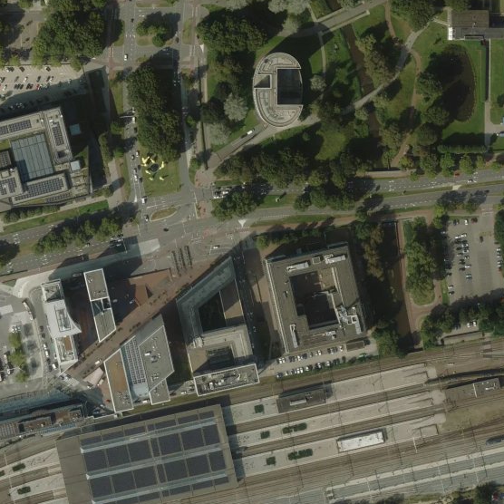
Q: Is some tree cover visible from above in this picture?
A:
Yes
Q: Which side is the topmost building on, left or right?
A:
right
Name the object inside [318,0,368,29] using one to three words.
bridge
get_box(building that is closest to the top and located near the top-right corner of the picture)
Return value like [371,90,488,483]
[447,11,504,41]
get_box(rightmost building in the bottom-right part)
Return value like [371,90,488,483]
[472,377,499,398]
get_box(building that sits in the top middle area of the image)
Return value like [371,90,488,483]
[253,53,302,128]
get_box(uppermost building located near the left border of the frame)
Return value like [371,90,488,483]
[0,108,92,211]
